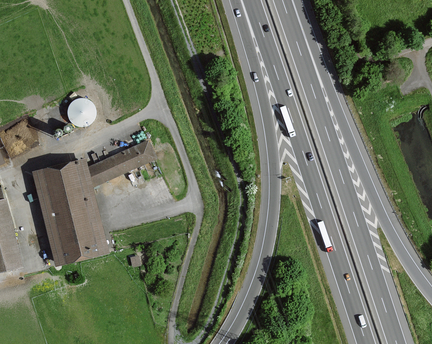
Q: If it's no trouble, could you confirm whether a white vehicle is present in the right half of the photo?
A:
Yes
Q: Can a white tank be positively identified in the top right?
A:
No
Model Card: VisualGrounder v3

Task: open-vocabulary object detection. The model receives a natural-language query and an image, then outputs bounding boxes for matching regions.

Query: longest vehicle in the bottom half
[316,220,336,252]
